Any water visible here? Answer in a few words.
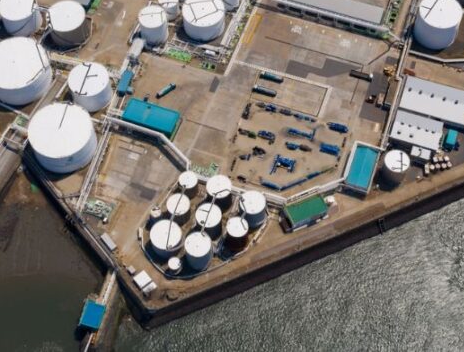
Yes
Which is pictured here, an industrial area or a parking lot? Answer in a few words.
industrial area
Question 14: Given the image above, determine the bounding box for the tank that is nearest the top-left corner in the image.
[0,0,50,37]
